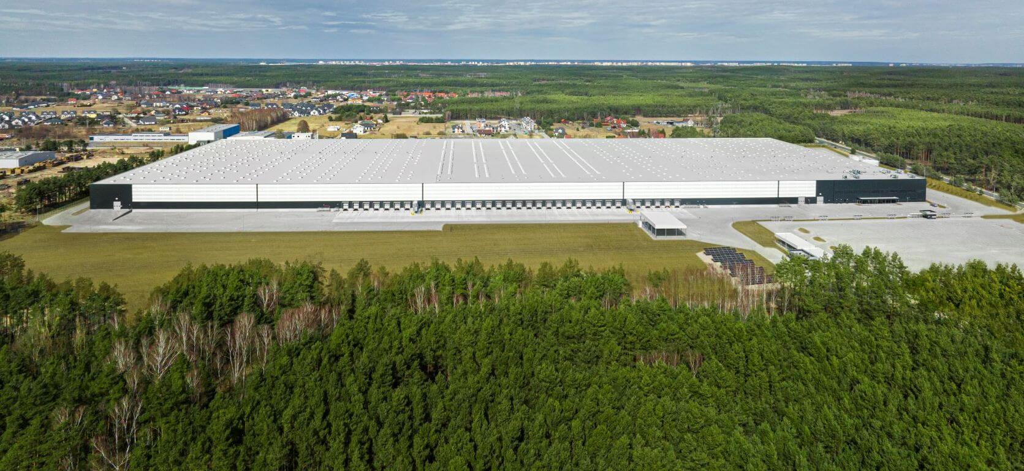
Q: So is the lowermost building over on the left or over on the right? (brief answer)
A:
right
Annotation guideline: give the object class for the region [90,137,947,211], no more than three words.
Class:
building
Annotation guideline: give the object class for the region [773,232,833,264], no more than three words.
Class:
building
